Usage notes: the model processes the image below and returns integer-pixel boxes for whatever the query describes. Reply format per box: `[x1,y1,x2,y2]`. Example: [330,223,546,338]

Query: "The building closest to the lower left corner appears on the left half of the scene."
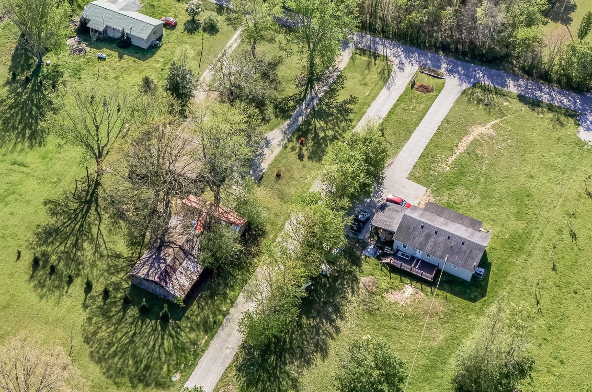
[128,217,226,309]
